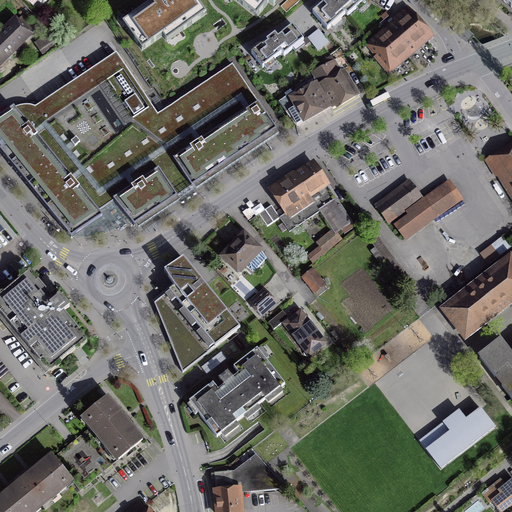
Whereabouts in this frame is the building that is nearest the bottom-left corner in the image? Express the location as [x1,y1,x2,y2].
[0,452,74,512]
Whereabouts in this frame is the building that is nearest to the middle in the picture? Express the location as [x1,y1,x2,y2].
[218,230,264,277]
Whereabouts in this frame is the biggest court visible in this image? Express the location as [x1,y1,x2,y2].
[376,306,486,438]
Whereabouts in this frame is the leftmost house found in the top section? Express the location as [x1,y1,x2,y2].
[0,15,33,70]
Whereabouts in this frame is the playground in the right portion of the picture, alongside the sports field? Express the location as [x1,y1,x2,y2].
[357,319,432,386]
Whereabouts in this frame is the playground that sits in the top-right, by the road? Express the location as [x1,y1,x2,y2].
[456,89,500,138]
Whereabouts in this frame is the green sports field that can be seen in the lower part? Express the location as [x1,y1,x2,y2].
[290,384,512,512]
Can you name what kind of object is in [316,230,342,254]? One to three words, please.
barn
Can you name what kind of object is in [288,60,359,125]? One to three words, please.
house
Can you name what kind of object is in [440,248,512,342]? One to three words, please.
building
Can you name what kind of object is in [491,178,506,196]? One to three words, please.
vehicle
